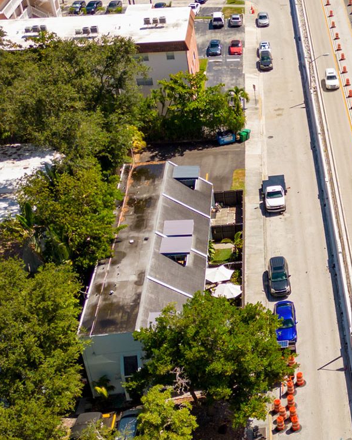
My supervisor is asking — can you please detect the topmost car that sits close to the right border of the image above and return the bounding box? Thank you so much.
[324,67,340,89]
